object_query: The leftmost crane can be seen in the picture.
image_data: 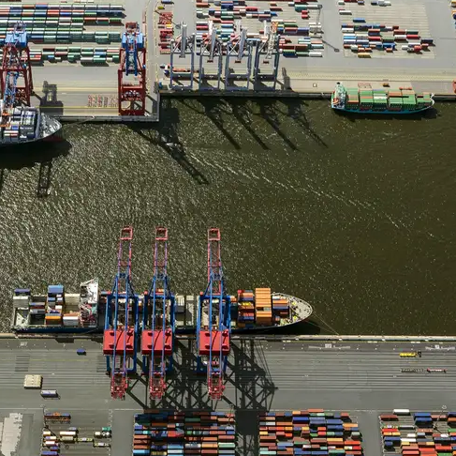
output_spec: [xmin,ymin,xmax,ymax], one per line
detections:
[0,22,36,133]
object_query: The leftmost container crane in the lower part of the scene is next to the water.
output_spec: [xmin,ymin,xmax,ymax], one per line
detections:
[100,229,143,400]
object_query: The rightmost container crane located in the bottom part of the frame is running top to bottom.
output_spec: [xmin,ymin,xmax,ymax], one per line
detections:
[189,230,236,402]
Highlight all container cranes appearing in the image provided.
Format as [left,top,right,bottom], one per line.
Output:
[165,23,197,93]
[253,23,286,93]
[100,229,143,400]
[189,230,236,402]
[193,23,224,93]
[222,23,253,93]
[112,22,153,115]
[0,22,36,133]
[136,229,182,402]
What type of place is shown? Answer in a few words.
port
